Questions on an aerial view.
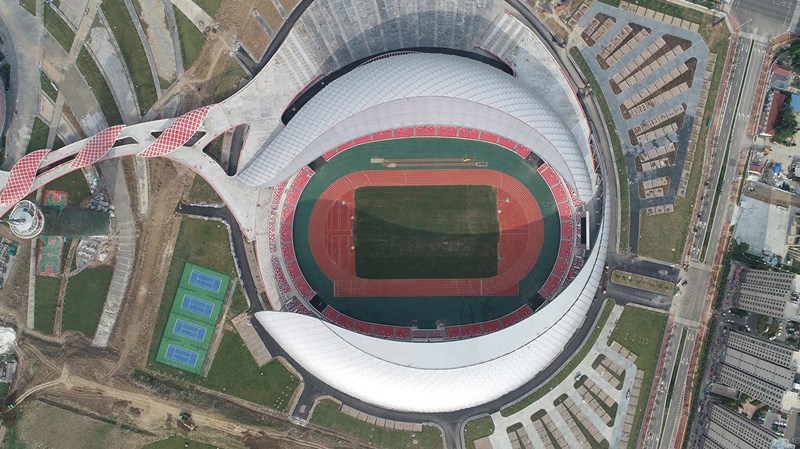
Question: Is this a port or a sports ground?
sports ground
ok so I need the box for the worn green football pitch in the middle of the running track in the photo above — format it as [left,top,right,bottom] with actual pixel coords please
[355,185,498,279]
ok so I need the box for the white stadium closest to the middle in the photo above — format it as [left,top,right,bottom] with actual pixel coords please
[199,0,612,415]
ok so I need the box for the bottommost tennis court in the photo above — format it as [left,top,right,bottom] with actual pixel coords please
[156,337,208,376]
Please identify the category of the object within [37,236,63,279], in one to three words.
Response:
basketball court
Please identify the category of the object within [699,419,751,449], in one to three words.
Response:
building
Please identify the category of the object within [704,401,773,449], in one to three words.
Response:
building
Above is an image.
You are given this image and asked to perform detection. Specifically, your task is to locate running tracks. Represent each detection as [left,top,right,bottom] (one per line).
[294,137,559,326]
